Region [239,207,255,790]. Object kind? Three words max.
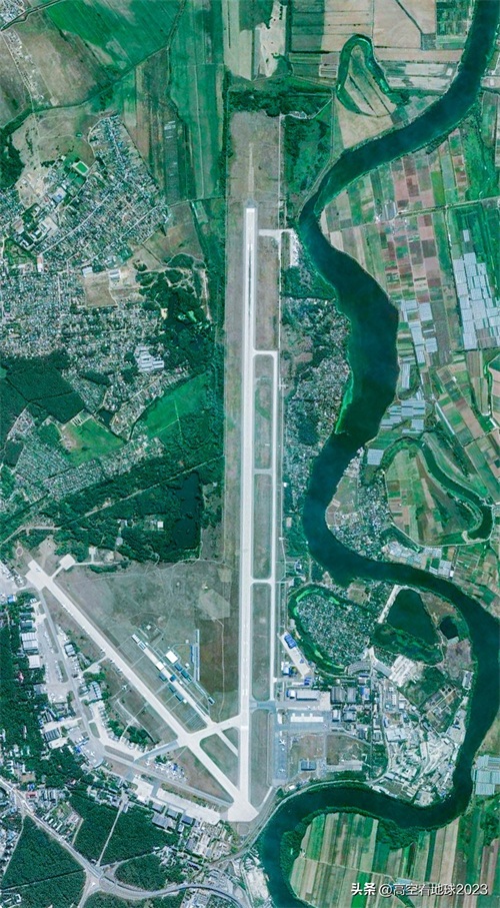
runway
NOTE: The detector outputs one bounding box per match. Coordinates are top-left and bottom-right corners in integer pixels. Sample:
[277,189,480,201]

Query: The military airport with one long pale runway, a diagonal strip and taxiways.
[0,135,331,825]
